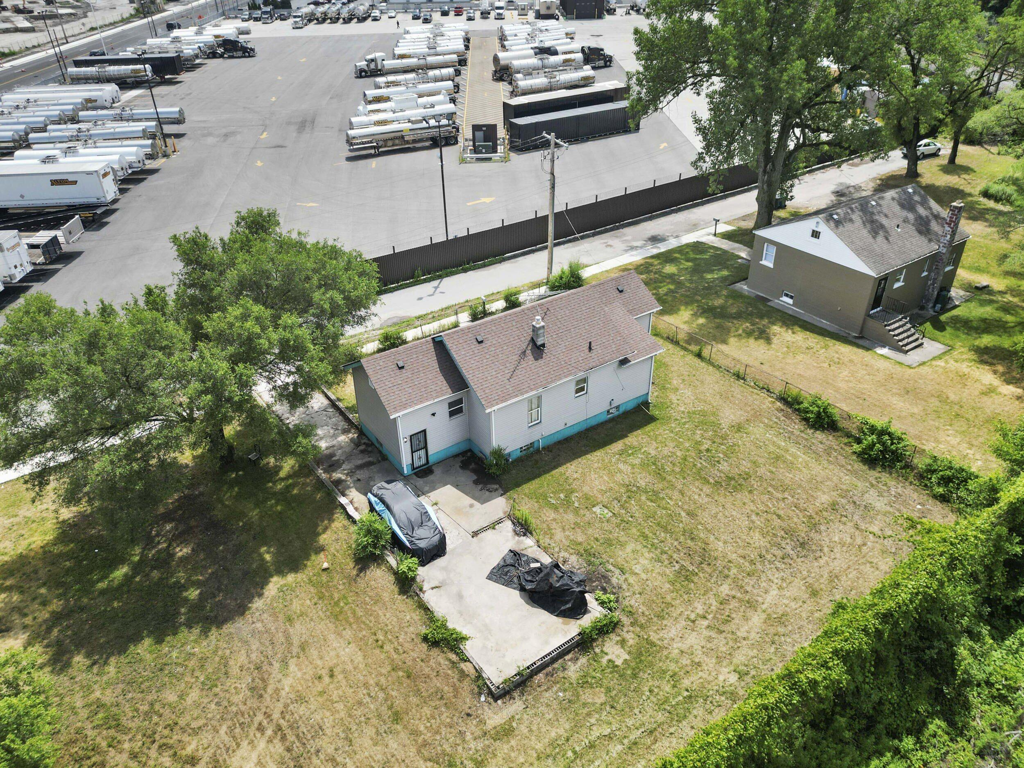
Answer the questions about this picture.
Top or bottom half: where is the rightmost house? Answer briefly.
top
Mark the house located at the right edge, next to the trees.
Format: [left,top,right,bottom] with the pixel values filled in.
[746,184,978,353]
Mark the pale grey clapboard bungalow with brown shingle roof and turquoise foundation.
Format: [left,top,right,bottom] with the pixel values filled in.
[342,266,668,474]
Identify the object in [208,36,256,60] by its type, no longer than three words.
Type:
truck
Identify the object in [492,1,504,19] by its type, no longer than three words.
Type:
vehicle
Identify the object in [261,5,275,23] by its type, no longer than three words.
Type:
vehicle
